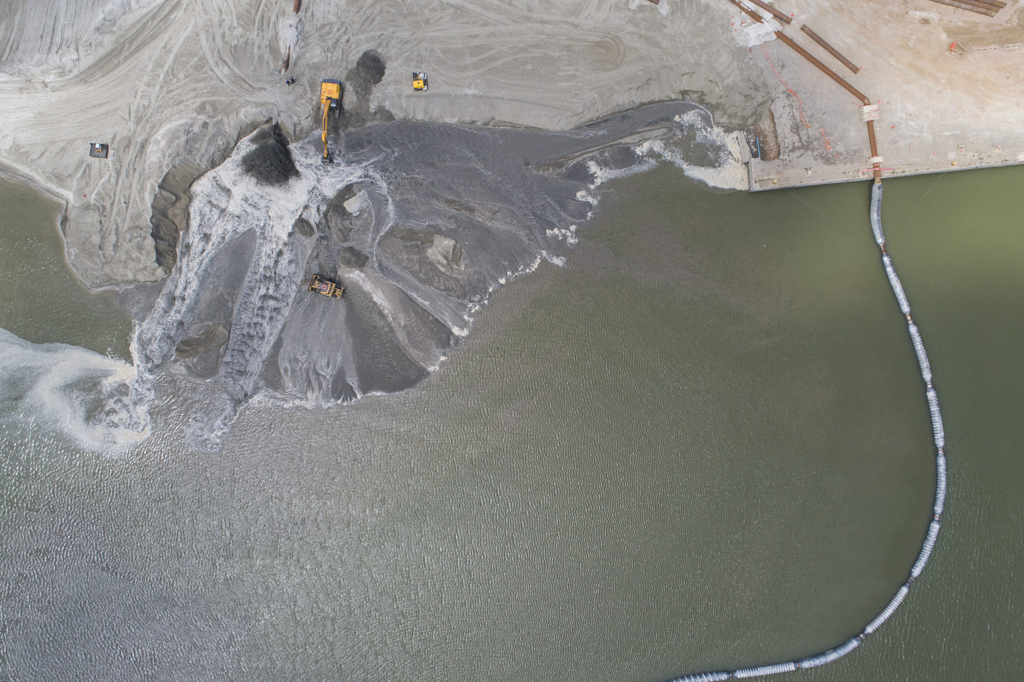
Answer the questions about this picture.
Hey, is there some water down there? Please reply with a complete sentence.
Yes, the picture does contain water.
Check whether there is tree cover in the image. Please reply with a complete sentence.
No, the scene doesn't show any tree cover.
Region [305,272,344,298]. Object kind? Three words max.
work vehicle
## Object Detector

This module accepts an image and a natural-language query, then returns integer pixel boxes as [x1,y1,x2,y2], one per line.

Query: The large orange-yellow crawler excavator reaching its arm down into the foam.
[319,79,346,164]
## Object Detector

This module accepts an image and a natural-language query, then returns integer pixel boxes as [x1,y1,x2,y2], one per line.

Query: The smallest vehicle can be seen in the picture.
[413,71,429,93]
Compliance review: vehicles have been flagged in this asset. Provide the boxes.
[305,272,344,298]
[319,79,346,164]
[413,71,429,93]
